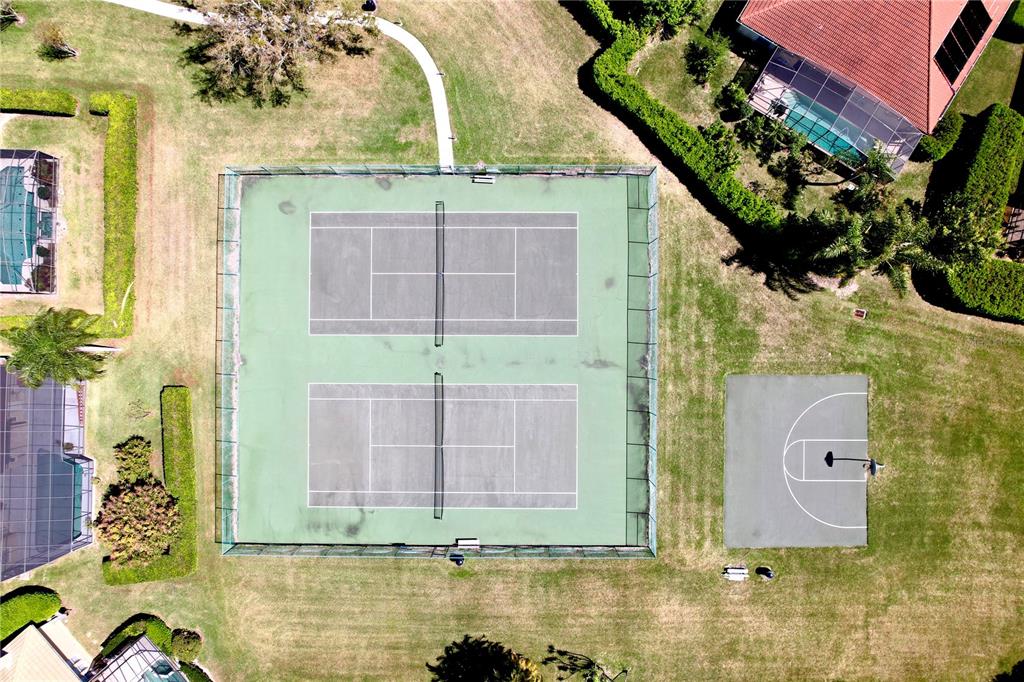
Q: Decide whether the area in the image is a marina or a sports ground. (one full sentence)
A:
This looks like a sports ground.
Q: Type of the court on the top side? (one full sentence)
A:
The court on the top side can be classified as a tennis court.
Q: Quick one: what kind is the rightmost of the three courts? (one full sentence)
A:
It looks like the rightmost of the three courts is a basketball court.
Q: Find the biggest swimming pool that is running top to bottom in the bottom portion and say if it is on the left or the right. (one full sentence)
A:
The biggest swimming pool that is running top to bottom in the bottom portion is on the left side of the image.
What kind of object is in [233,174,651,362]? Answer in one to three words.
tennis court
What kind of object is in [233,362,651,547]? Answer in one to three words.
tennis court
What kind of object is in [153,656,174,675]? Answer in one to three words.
swimming pool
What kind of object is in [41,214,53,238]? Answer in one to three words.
swimming pool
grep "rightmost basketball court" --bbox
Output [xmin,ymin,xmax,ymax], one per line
[724,375,869,548]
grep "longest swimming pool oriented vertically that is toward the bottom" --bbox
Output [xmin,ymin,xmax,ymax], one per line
[63,448,83,545]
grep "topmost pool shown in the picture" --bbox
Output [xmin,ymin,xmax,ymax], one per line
[781,89,877,165]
